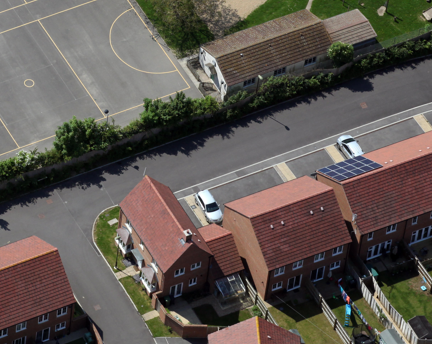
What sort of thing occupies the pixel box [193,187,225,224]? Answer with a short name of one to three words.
car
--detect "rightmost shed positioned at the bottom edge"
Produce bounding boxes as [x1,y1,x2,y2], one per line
[407,316,432,339]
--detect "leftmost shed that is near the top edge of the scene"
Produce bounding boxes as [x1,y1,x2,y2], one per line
[198,8,332,99]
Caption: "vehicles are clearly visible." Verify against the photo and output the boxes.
[333,131,365,158]
[193,187,225,224]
